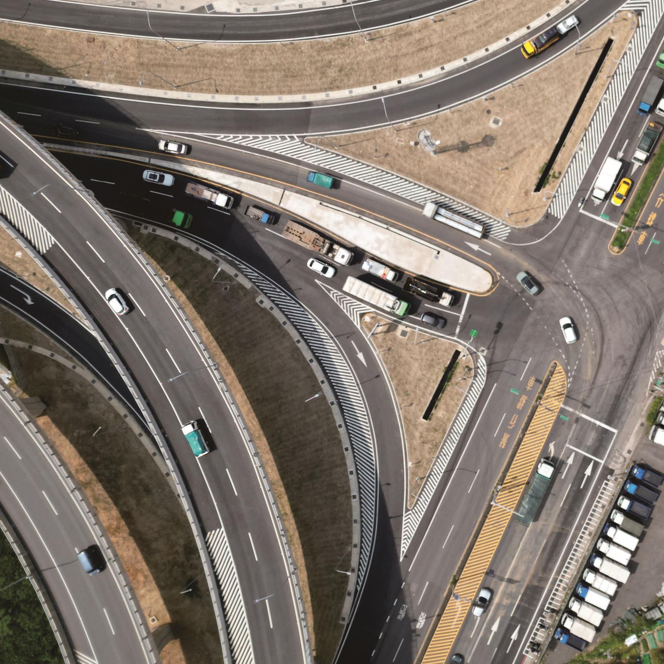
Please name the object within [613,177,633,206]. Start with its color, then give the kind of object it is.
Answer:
yellow car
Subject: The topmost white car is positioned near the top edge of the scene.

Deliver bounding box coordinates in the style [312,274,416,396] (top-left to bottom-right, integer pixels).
[556,14,581,35]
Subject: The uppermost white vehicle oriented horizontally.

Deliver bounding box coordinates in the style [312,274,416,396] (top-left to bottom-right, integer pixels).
[158,139,189,154]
